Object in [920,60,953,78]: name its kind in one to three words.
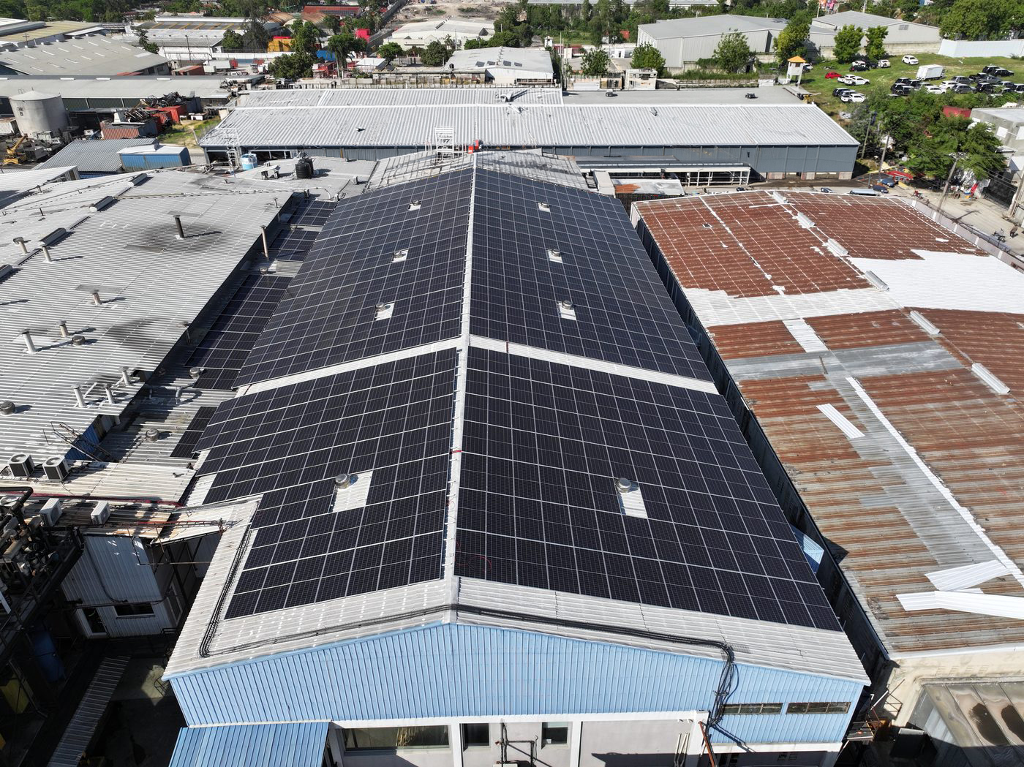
vehicle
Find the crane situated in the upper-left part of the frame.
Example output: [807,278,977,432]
[0,126,35,164]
